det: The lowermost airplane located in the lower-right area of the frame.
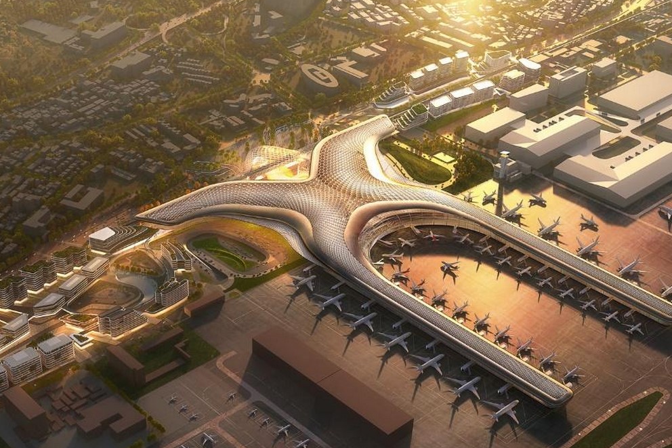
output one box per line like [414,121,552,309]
[488,400,517,422]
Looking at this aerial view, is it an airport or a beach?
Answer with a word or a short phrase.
airport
